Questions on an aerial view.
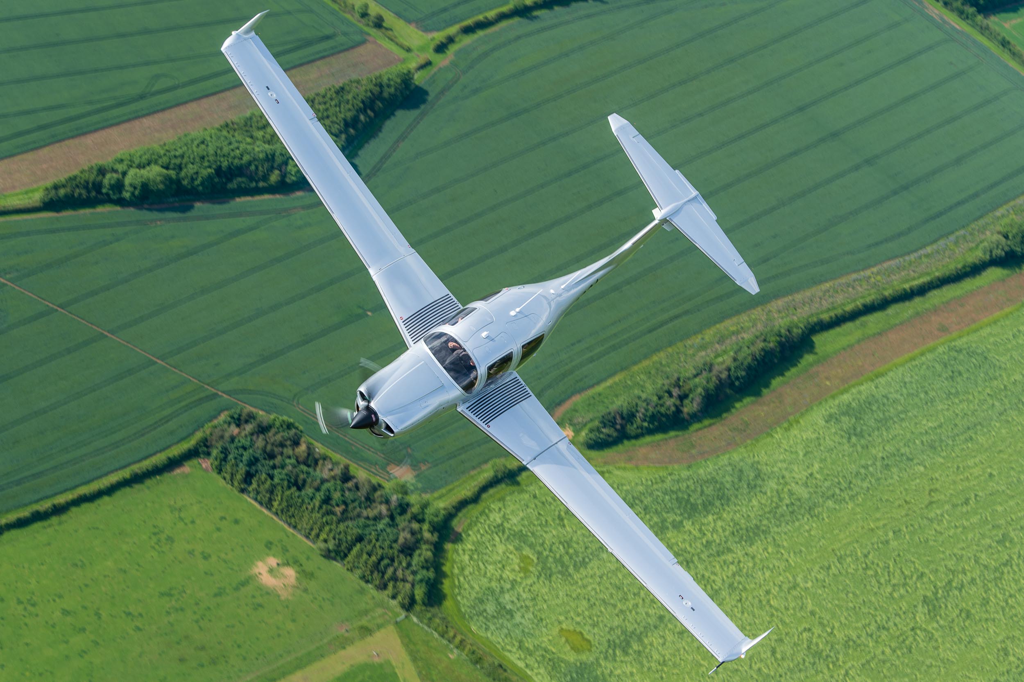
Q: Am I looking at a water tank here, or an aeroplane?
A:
aeroplane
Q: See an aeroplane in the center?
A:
Yes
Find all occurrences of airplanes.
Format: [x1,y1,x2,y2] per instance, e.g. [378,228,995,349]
[220,8,776,679]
